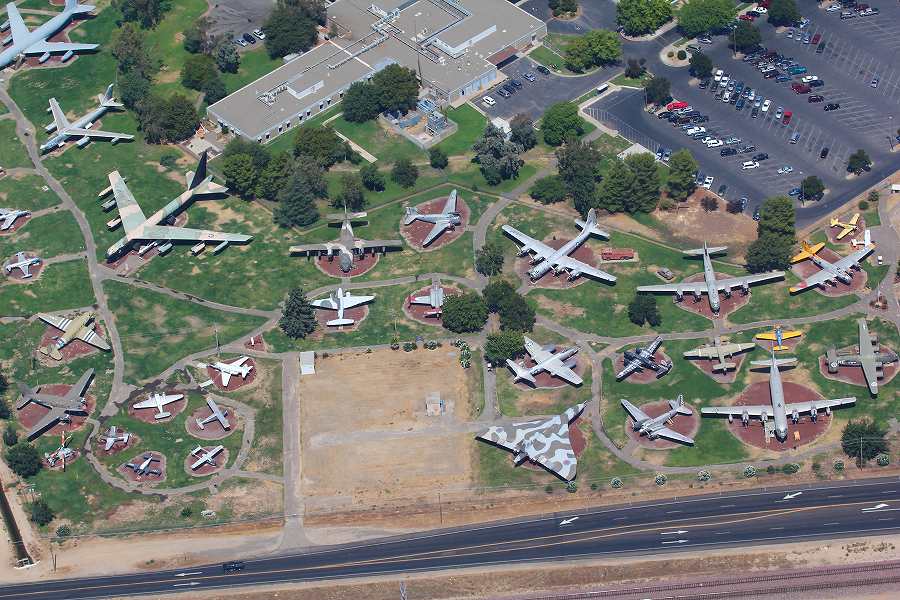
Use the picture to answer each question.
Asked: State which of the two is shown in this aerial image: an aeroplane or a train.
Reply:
aeroplane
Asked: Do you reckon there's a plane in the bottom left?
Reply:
Yes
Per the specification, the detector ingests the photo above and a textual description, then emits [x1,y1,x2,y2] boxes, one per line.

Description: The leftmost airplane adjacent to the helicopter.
[16,367,93,435]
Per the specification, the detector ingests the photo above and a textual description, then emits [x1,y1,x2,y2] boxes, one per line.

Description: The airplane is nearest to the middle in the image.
[405,279,467,311]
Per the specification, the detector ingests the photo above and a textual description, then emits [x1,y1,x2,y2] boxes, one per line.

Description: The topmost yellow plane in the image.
[830,213,860,236]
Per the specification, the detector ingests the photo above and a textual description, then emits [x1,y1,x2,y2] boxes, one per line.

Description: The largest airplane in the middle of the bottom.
[475,402,589,480]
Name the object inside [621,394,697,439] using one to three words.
airplane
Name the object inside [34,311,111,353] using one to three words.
airplane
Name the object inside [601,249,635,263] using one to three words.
vehicle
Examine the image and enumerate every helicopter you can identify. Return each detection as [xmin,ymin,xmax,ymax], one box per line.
[47,435,76,465]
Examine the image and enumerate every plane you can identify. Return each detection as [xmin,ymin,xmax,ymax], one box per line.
[4,251,42,277]
[827,316,899,389]
[134,390,184,416]
[197,399,232,429]
[403,188,462,242]
[787,236,878,289]
[854,231,879,253]
[34,311,111,353]
[701,342,857,441]
[0,0,99,69]
[105,156,256,261]
[311,286,374,322]
[504,335,584,380]
[756,325,801,349]
[830,213,860,236]
[189,444,223,467]
[405,279,467,311]
[475,402,589,480]
[684,336,756,372]
[99,425,130,449]
[637,233,785,312]
[125,452,163,478]
[621,394,697,439]
[47,86,134,151]
[16,367,93,435]
[617,335,672,375]
[209,357,256,386]
[502,213,616,283]
[0,206,36,225]
[290,207,402,274]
